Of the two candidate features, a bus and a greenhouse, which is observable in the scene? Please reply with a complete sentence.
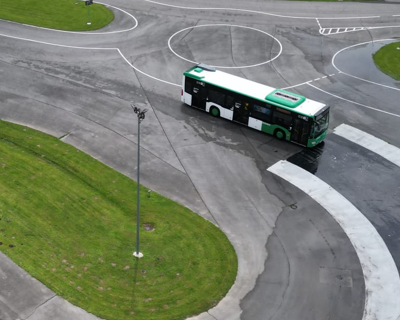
This aerial view contains a bus.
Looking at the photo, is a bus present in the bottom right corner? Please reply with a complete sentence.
No, there's no bus to be seen in the bottom right corner.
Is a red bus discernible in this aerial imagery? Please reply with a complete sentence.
No, I can't see a single red bus in this photo.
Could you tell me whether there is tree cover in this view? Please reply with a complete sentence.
No, there is no tree cover in the image.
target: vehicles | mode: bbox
[181,59,337,149]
